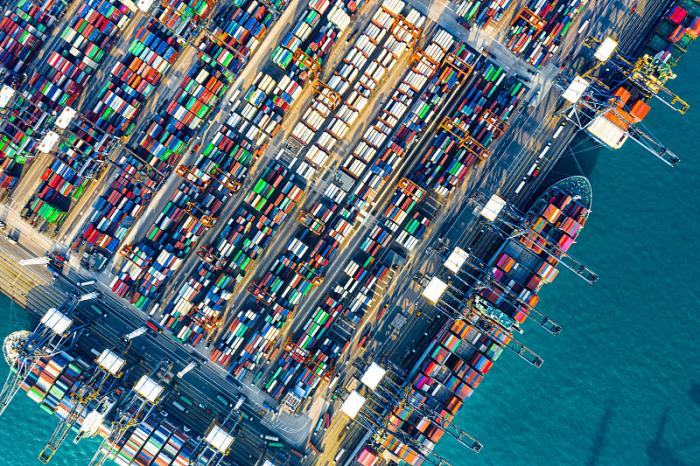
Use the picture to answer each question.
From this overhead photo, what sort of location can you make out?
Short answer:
port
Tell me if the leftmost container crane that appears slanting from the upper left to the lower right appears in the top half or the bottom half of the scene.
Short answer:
top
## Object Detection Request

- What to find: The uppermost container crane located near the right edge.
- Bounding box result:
[567,26,693,111]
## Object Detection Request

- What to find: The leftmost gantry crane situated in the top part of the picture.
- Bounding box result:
[0,79,58,135]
